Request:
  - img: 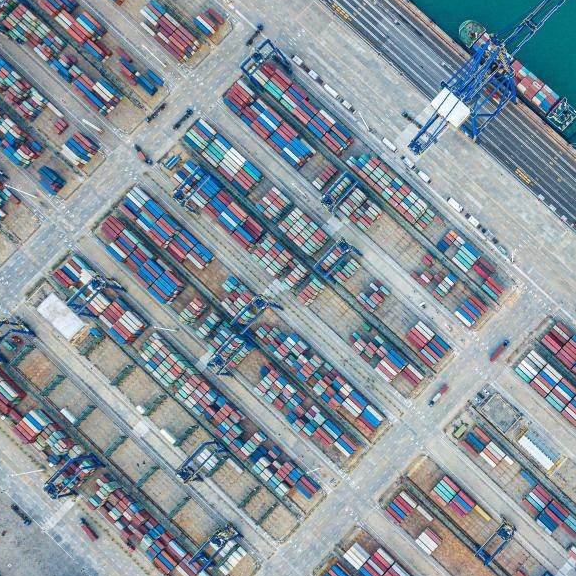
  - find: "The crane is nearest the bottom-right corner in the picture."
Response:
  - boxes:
[473,515,515,567]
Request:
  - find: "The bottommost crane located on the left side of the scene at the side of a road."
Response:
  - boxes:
[188,522,243,574]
